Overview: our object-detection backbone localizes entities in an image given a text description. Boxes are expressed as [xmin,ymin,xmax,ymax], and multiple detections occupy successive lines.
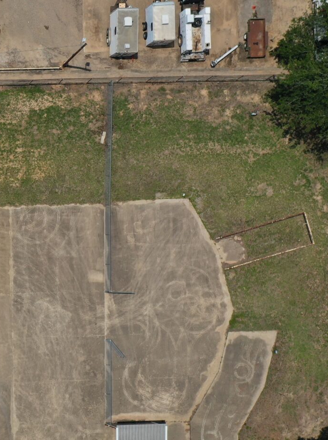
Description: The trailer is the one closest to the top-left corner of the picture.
[107,5,139,59]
